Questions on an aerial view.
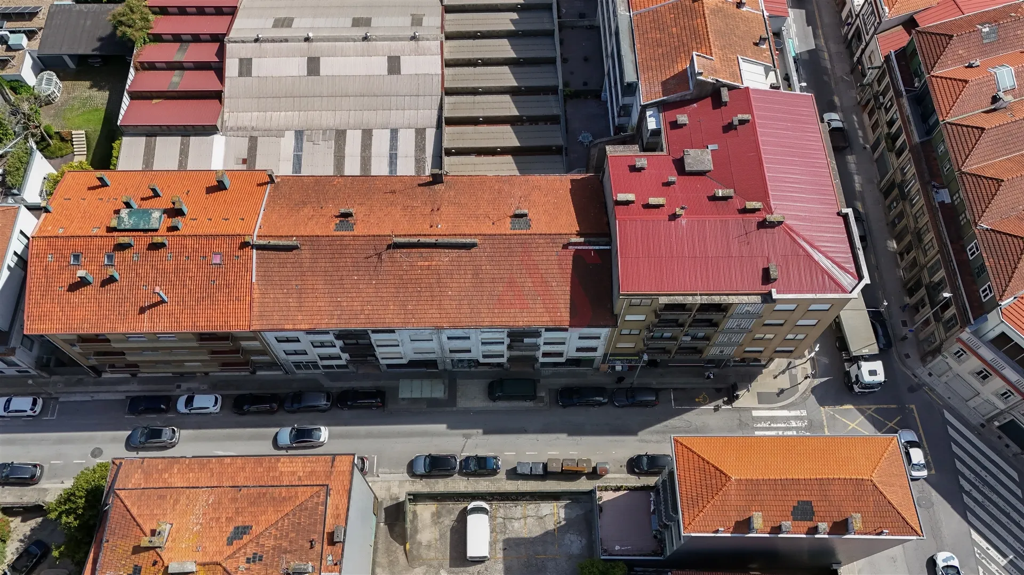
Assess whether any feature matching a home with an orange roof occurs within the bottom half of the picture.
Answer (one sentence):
Yes, there is a home with an orange roof within the bottom half of the picture.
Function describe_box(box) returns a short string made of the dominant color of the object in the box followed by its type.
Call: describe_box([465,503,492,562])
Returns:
white vehicle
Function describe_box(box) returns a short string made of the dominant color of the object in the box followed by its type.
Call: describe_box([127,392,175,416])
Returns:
black car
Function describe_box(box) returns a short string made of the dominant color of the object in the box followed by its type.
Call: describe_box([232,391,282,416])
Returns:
black car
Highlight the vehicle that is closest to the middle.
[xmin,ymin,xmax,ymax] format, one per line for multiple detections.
[488,377,536,401]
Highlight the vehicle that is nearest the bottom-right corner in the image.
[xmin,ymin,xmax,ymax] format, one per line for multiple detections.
[933,549,964,575]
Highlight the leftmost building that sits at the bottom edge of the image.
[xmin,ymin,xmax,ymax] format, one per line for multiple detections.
[82,453,375,575]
